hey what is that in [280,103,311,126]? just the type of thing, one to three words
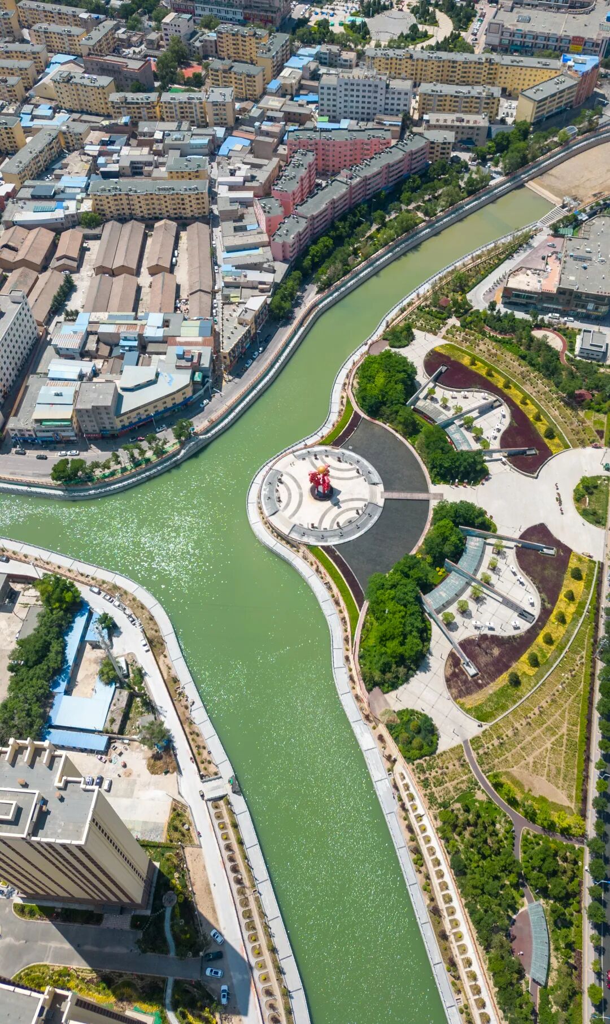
house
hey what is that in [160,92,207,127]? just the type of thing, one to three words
building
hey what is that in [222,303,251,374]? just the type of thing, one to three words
building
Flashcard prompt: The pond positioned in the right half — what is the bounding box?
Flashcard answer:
[333,419,429,589]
